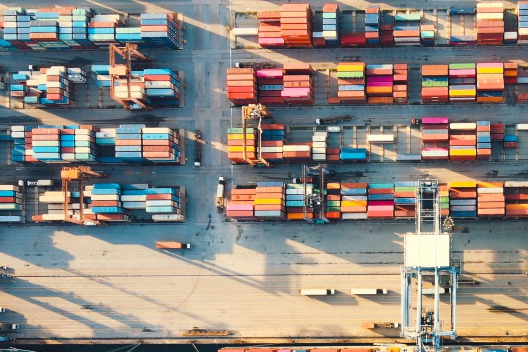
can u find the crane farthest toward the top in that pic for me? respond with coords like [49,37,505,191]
[106,42,150,114]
